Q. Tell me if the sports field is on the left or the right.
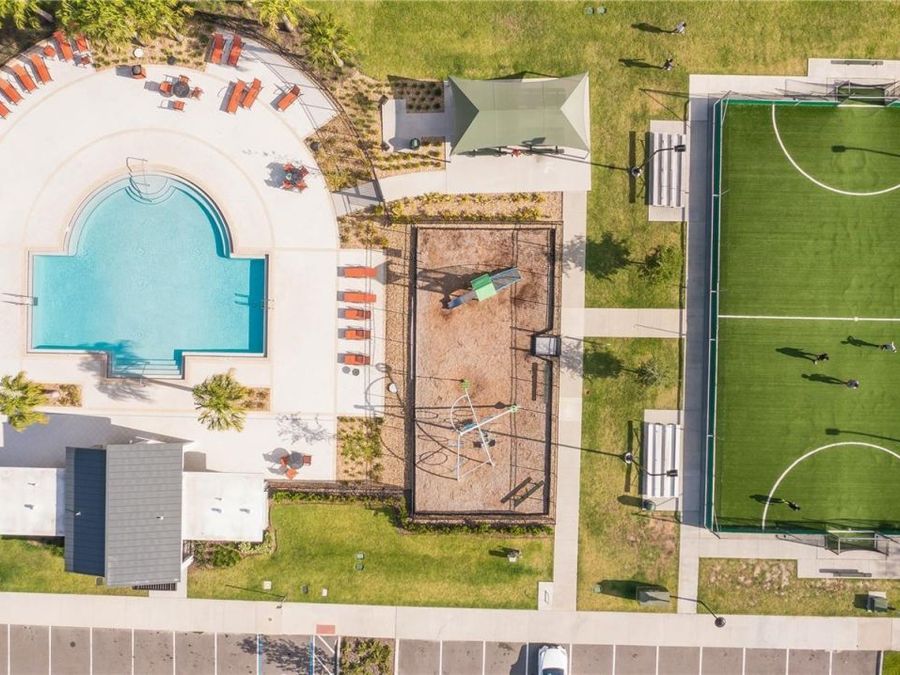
right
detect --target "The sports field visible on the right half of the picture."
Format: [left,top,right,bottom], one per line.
[711,86,900,550]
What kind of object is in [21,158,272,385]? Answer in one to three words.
swimming pool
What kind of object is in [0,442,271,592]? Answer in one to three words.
building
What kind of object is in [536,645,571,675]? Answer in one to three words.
car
